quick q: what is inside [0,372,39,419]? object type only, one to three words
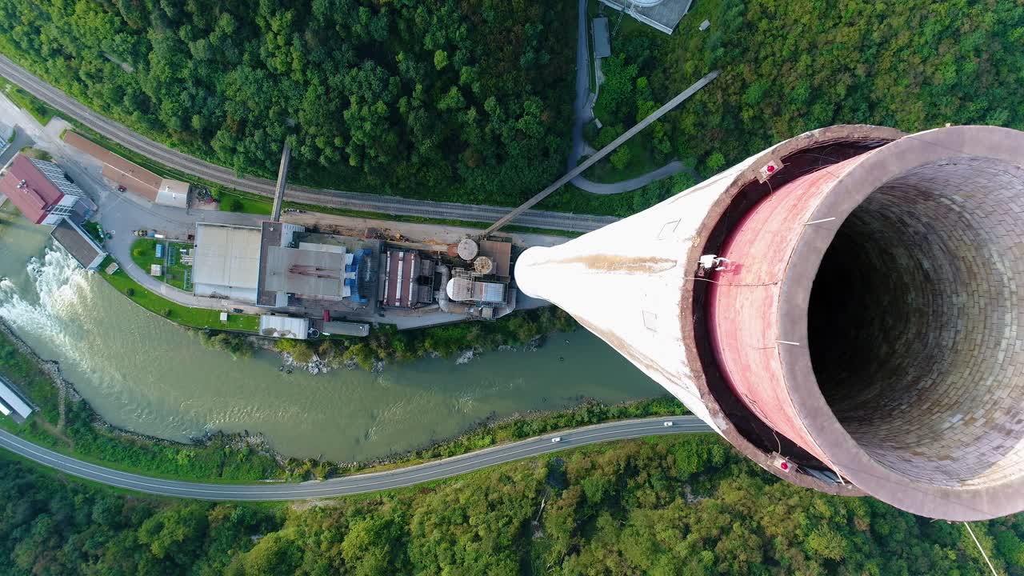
building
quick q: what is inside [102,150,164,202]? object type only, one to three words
shed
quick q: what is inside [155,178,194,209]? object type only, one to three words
building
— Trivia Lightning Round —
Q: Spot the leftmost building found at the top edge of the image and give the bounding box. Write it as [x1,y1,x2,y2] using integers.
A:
[592,17,611,60]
